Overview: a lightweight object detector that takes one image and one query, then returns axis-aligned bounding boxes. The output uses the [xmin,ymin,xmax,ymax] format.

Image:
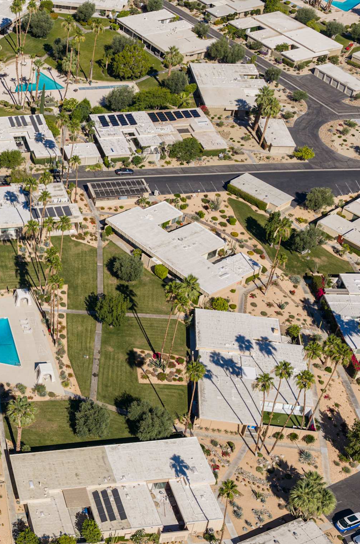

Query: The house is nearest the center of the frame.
[105,202,262,309]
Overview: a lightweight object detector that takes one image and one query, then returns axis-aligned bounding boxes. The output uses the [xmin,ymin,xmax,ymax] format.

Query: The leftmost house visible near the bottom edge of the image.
[9,436,225,544]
